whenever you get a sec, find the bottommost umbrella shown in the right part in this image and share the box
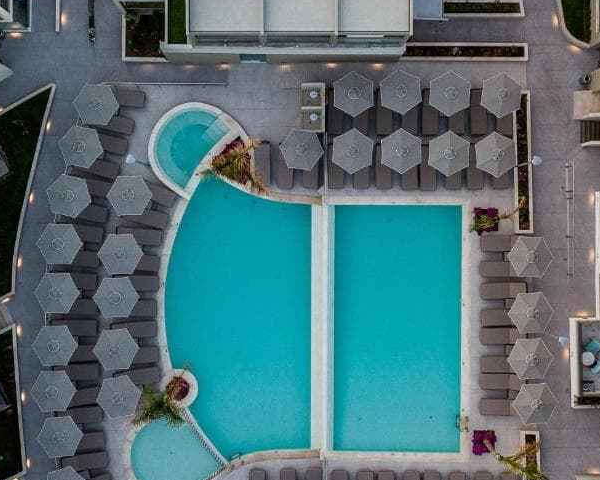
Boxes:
[510,381,556,425]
